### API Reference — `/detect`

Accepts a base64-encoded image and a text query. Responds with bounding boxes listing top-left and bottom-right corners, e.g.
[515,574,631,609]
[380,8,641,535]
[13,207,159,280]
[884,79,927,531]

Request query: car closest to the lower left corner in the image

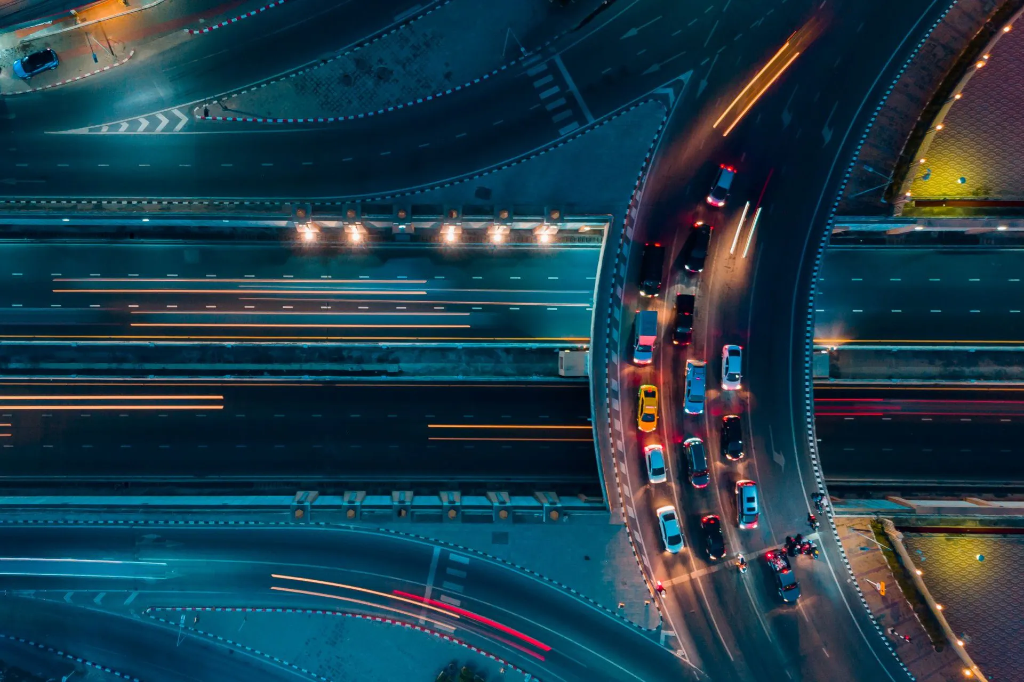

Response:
[101,557,156,583]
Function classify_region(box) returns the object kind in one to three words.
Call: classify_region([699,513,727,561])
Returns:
car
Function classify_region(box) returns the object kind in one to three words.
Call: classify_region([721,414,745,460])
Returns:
car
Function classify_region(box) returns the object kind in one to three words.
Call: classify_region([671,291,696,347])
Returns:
truck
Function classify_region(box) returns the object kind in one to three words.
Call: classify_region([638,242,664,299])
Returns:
truck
